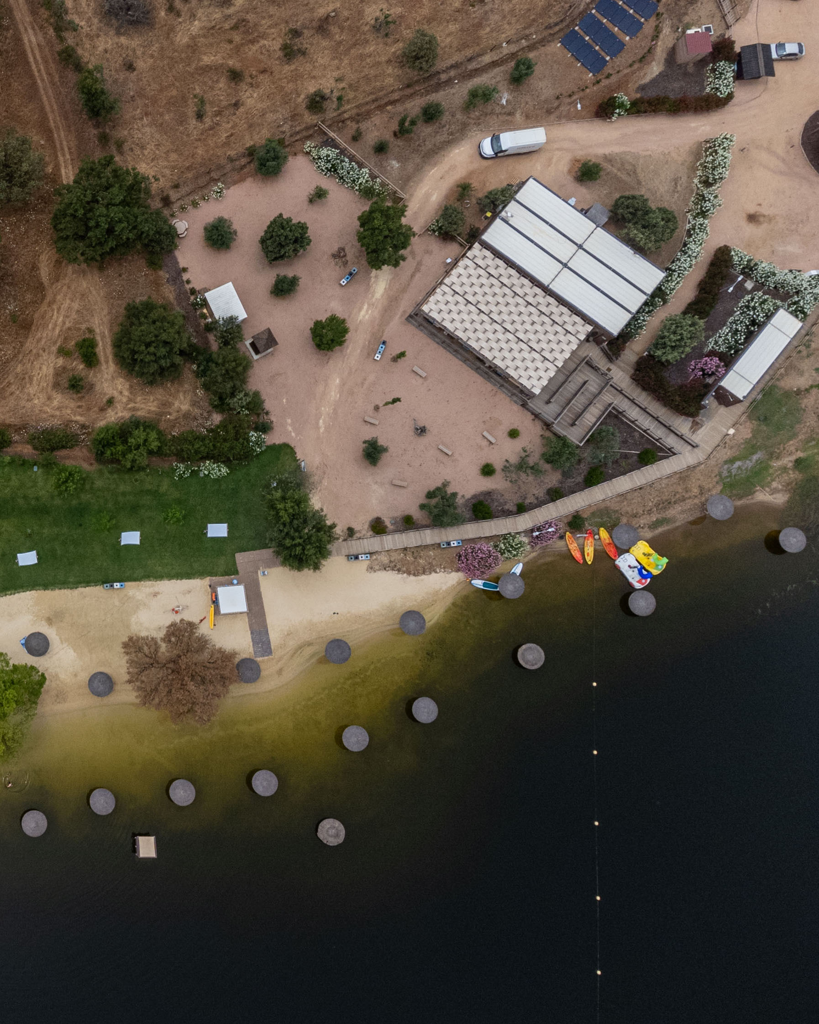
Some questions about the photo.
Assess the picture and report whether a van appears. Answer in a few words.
Yes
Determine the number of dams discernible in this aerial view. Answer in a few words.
0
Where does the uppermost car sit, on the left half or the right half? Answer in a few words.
right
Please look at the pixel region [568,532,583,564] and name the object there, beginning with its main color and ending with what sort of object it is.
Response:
orange boat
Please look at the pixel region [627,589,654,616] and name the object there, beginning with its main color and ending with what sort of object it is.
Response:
gray umbrella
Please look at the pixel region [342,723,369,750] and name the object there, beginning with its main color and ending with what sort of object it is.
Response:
gray umbrella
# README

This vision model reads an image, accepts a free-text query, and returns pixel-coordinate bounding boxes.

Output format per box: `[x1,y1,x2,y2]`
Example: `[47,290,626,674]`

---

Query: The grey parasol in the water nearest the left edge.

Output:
[23,808,50,835]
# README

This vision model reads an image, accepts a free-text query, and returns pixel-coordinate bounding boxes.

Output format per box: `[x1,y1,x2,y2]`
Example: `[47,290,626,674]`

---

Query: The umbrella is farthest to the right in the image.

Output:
[776,527,804,554]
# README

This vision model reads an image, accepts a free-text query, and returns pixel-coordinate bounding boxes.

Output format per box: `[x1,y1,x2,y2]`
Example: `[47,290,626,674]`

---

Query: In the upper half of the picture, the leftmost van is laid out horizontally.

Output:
[479,124,543,158]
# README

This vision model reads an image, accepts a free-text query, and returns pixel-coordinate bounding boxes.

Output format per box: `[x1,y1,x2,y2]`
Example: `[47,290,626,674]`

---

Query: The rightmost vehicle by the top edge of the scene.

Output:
[771,41,806,63]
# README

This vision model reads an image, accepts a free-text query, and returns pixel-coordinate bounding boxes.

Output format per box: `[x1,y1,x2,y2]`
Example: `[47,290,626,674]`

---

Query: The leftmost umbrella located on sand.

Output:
[24,631,50,657]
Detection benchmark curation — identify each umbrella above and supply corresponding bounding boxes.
[612,523,637,549]
[318,816,345,844]
[170,776,197,804]
[252,767,279,795]
[325,637,351,663]
[627,589,654,616]
[498,573,524,598]
[89,670,115,696]
[705,493,732,520]
[23,808,50,835]
[236,657,262,683]
[516,642,544,669]
[91,786,118,813]
[399,609,425,635]
[24,631,50,657]
[411,695,438,722]
[776,527,804,554]
[342,723,369,750]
